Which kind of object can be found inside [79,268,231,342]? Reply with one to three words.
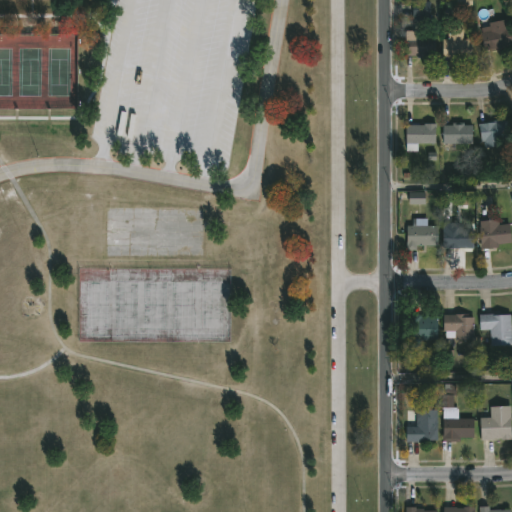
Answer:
sports court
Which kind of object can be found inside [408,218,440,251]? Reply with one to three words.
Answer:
house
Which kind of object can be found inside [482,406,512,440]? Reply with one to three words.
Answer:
house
